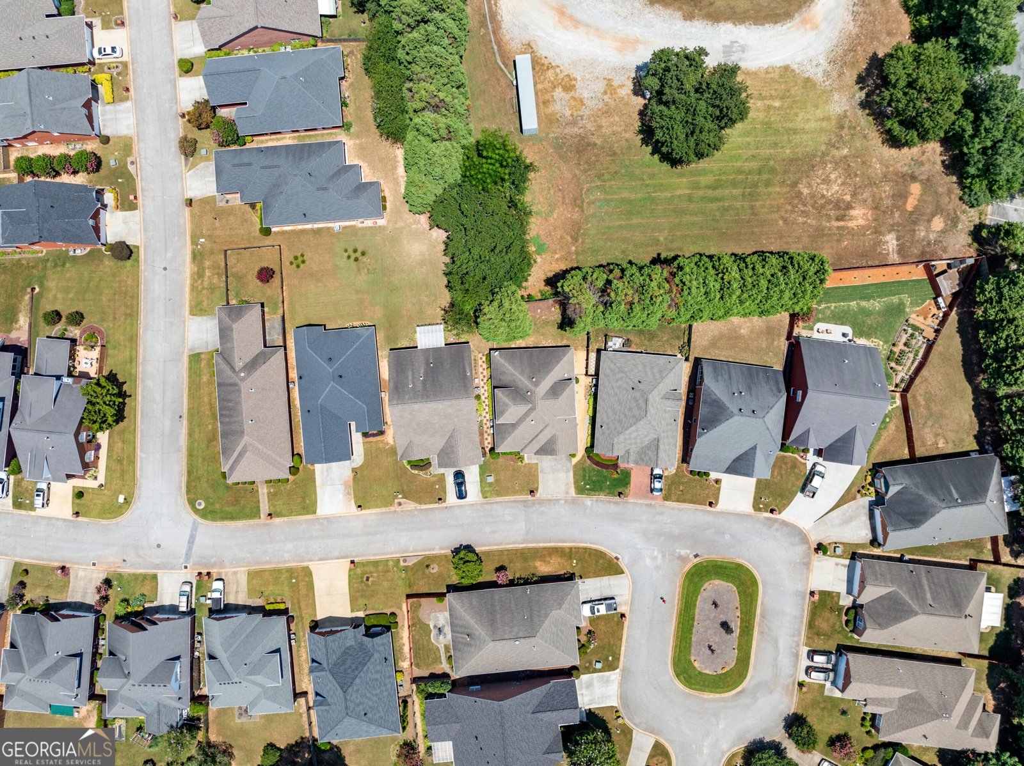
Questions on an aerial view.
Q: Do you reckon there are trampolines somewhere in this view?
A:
No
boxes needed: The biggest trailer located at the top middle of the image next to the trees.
[515,54,537,135]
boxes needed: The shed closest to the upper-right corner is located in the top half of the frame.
[927,269,962,298]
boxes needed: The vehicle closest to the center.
[452,471,467,501]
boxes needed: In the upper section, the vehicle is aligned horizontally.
[92,44,124,60]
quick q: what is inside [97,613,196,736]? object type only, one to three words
house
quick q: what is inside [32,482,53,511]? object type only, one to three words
car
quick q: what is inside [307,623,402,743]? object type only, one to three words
house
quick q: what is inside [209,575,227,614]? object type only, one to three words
vehicle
